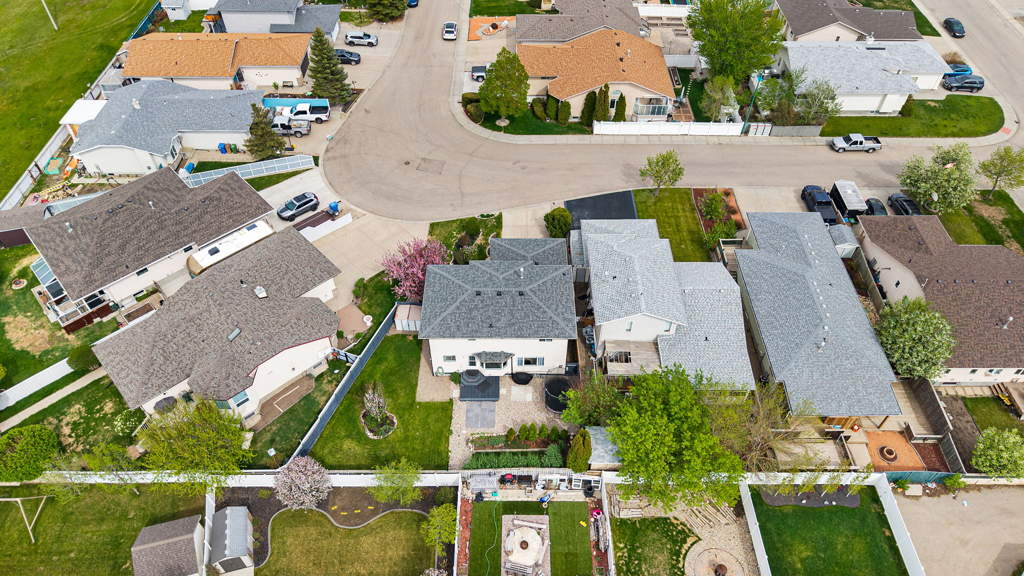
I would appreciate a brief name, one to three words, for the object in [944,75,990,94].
car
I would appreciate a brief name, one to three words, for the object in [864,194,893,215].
car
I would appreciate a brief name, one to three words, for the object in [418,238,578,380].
house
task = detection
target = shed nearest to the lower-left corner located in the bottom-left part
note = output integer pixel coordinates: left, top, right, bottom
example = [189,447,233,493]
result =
[127,515,210,576]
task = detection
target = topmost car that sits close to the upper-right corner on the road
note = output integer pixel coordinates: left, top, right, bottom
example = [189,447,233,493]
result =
[941,17,971,36]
